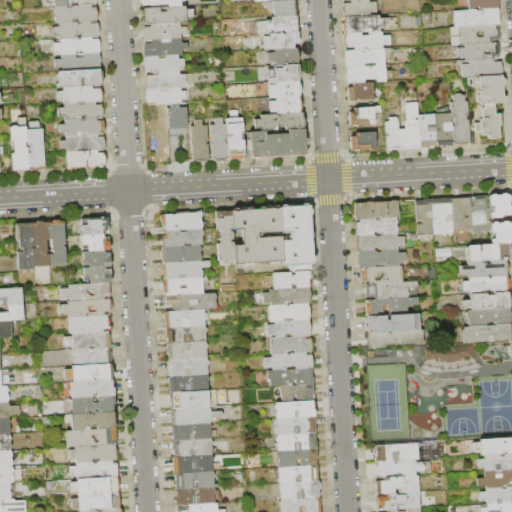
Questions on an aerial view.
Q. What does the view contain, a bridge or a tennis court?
tennis court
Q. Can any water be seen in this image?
No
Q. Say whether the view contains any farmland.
No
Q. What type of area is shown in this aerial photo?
residential area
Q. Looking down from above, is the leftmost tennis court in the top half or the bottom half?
bottom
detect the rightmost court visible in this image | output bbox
[477,374,512,436]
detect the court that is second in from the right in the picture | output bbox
[444,404,480,438]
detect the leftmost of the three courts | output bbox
[367,363,408,441]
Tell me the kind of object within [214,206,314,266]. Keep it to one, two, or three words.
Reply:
building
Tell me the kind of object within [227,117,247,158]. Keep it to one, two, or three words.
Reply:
house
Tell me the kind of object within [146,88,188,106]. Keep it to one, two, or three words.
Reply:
house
